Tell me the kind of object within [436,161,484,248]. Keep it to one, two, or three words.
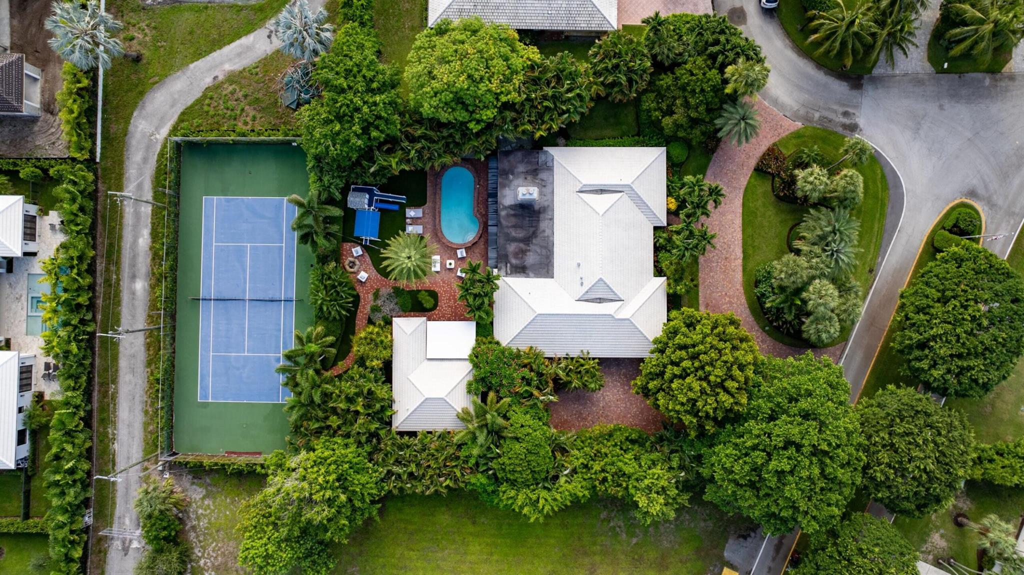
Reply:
swimming pool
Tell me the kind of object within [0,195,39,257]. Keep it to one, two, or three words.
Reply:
house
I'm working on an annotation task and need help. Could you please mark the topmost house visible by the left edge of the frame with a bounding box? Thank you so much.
[0,53,45,119]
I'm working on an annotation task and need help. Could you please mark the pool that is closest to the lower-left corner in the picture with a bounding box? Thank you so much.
[26,273,64,336]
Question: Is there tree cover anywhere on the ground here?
Yes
